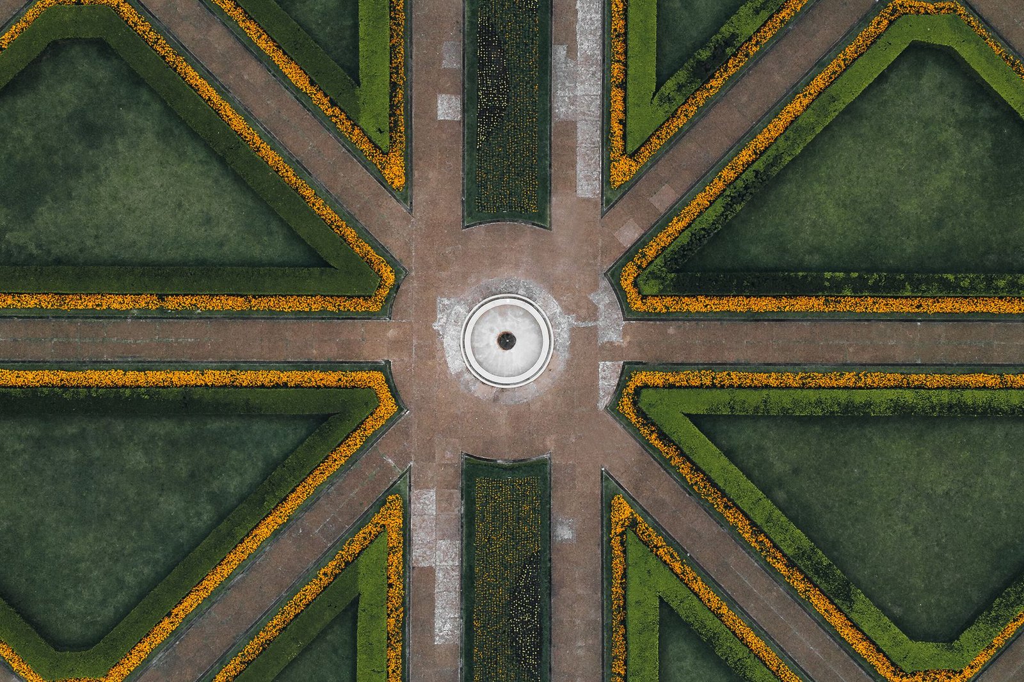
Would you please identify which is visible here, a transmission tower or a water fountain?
water fountain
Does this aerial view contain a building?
No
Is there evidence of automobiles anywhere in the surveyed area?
No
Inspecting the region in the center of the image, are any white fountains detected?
Yes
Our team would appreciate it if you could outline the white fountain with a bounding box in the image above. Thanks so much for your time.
[460,294,554,387]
